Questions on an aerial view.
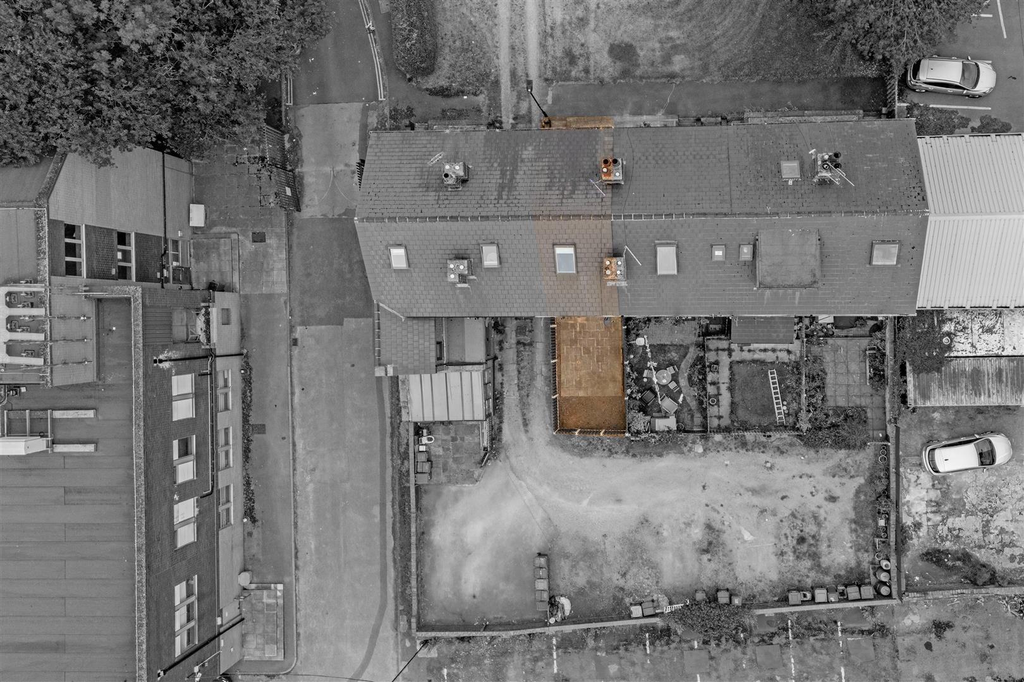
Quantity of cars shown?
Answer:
2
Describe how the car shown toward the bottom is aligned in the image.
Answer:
from side to side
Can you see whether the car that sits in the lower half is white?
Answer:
Yes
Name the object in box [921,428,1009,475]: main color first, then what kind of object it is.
white car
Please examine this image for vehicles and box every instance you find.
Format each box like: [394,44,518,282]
[921,428,1009,475]
[905,54,993,100]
